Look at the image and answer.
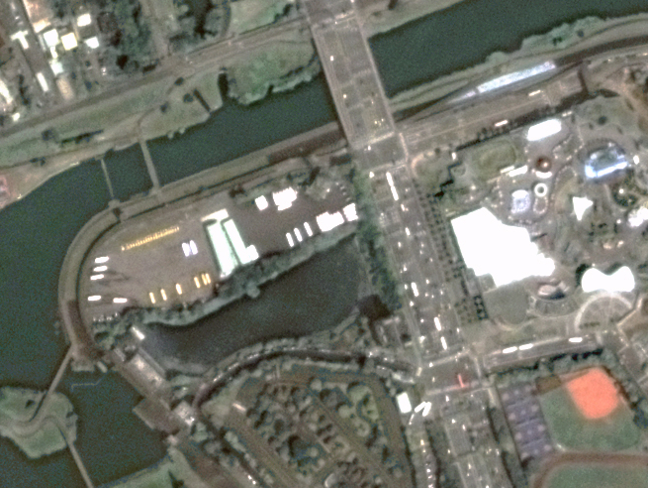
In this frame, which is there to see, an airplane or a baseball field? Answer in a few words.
baseball field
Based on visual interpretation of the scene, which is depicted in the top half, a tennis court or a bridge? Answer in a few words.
bridge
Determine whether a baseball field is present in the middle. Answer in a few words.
No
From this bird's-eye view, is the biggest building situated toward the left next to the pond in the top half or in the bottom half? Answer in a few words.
bottom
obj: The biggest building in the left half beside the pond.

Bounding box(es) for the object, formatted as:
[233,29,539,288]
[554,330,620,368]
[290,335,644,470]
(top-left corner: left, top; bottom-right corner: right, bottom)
[124,354,164,394]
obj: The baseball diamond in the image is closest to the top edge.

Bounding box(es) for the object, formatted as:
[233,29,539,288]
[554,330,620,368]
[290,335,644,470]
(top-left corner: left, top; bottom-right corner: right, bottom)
[542,368,639,451]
